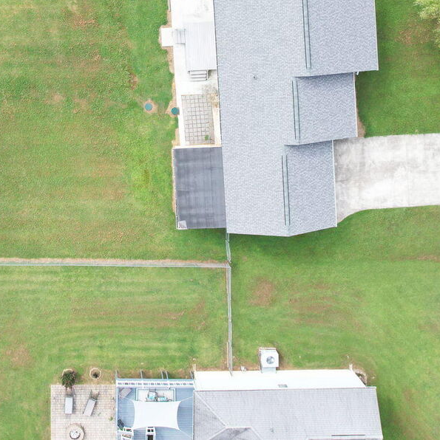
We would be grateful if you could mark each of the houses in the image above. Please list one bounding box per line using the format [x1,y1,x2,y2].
[171,0,380,236]
[193,361,382,440]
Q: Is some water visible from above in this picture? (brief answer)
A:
No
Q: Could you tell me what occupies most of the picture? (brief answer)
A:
grass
